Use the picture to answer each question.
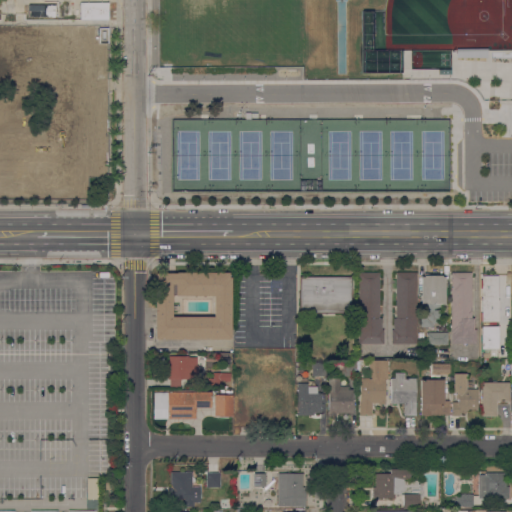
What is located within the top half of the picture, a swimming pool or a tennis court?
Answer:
tennis court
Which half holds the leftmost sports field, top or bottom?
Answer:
top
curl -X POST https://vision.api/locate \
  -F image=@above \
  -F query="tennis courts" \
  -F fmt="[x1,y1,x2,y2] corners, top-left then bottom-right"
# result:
[270,130,293,180]
[240,130,262,180]
[359,130,382,180]
[390,130,413,180]
[328,130,352,180]
[208,130,232,180]
[422,130,444,180]
[178,130,200,180]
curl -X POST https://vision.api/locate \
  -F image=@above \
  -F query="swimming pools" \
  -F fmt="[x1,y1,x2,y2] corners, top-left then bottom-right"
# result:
[238,472,254,491]
[422,472,440,500]
[444,472,461,498]
[184,299,213,314]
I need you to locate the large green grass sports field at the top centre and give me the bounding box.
[160,0,304,66]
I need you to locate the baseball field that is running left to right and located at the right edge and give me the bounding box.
[386,0,512,49]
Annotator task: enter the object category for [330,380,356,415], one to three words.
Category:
house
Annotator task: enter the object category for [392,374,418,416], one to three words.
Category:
house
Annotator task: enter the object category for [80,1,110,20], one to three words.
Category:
building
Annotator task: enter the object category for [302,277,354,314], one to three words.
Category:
building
